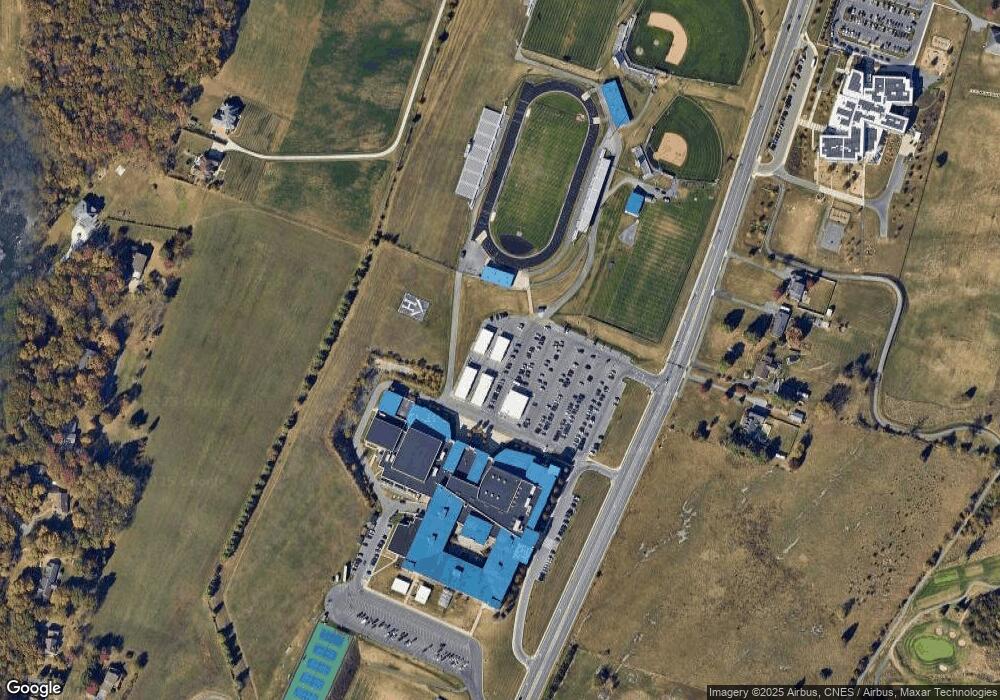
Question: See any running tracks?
Yes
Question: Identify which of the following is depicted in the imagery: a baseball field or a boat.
baseball field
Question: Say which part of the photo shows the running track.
top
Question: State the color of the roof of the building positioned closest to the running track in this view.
blue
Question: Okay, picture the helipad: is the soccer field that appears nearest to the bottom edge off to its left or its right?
to the right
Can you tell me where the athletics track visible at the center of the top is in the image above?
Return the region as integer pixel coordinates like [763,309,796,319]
[474,74,600,268]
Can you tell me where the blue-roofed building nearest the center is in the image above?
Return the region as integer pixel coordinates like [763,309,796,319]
[480,264,518,289]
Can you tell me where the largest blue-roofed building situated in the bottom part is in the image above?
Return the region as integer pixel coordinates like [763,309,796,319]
[366,391,561,609]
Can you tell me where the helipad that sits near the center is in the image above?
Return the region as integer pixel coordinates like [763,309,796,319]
[398,293,429,320]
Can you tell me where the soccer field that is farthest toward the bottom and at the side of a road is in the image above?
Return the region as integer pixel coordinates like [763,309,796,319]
[588,186,724,343]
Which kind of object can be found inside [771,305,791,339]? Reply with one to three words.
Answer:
house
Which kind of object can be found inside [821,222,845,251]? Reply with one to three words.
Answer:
basketball court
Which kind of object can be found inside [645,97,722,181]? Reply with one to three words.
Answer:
baseball field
